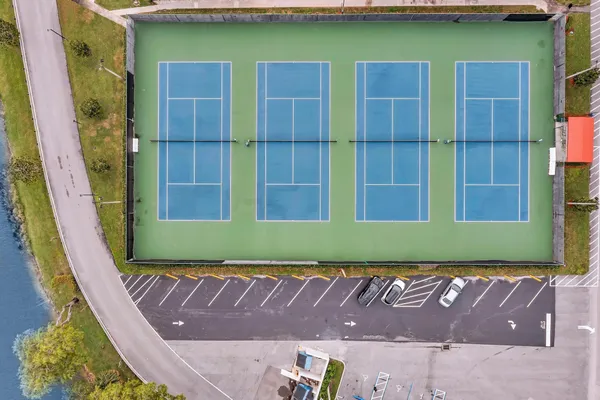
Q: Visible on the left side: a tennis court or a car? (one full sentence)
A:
There is a tennis court on the left side.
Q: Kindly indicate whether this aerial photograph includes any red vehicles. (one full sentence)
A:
No, this view has no red vehicle in it.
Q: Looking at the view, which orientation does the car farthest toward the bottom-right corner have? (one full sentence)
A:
What the image shows is the car farthest toward the bottom-right corner lying at an angle.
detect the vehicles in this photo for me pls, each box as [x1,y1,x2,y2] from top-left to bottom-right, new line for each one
[438,276,465,307]
[380,277,405,307]
[357,275,384,306]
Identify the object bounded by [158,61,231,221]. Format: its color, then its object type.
blue tennis court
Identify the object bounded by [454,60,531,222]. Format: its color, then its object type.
blue tennis court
